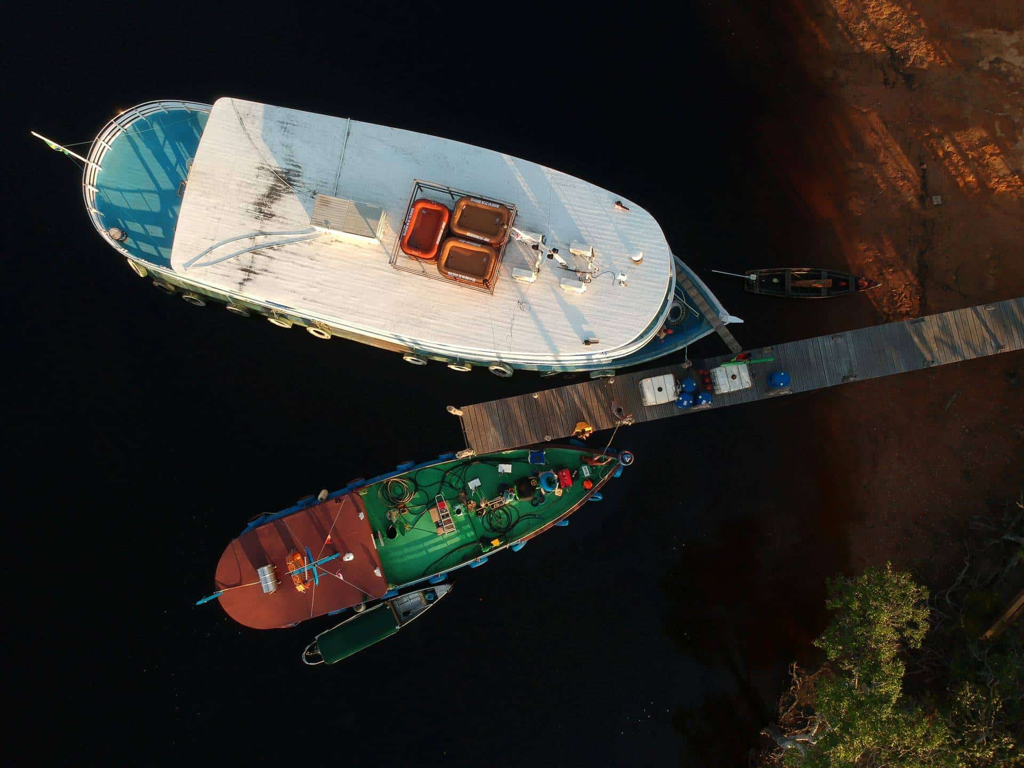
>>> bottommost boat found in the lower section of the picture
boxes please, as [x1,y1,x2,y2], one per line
[302,581,457,669]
